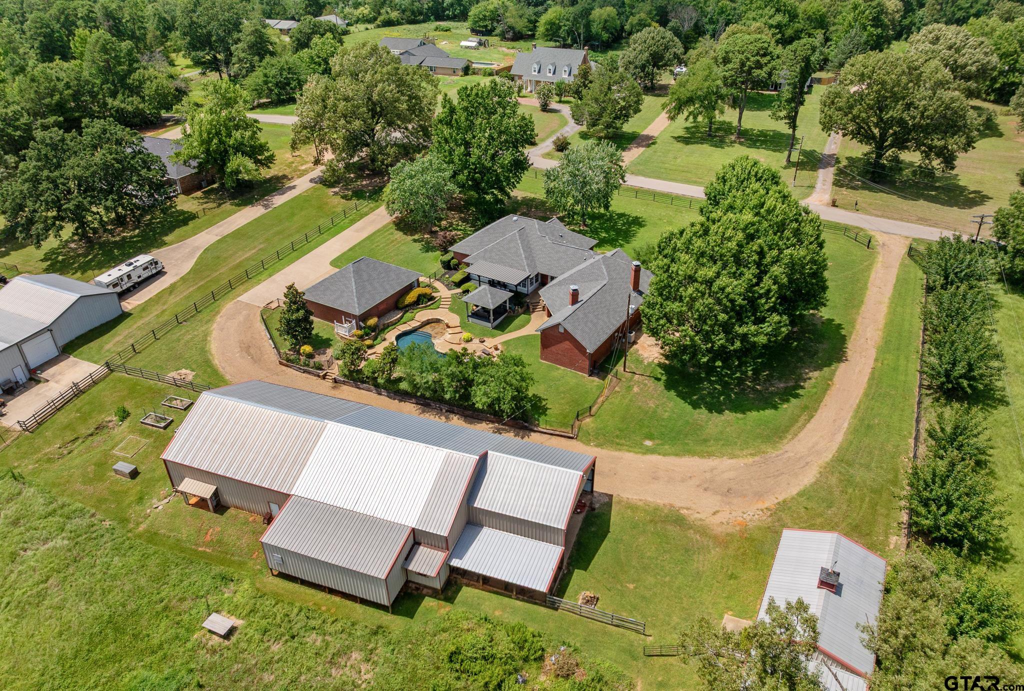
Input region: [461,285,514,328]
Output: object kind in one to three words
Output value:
gazebo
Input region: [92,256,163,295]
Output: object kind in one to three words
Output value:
trailer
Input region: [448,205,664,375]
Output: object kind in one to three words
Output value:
house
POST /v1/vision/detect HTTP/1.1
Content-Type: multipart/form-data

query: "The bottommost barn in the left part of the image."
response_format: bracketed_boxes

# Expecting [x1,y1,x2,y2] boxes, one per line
[158,379,600,613]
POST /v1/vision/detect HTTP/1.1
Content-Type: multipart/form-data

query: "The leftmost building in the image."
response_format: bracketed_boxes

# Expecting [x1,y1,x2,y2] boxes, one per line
[0,277,124,388]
